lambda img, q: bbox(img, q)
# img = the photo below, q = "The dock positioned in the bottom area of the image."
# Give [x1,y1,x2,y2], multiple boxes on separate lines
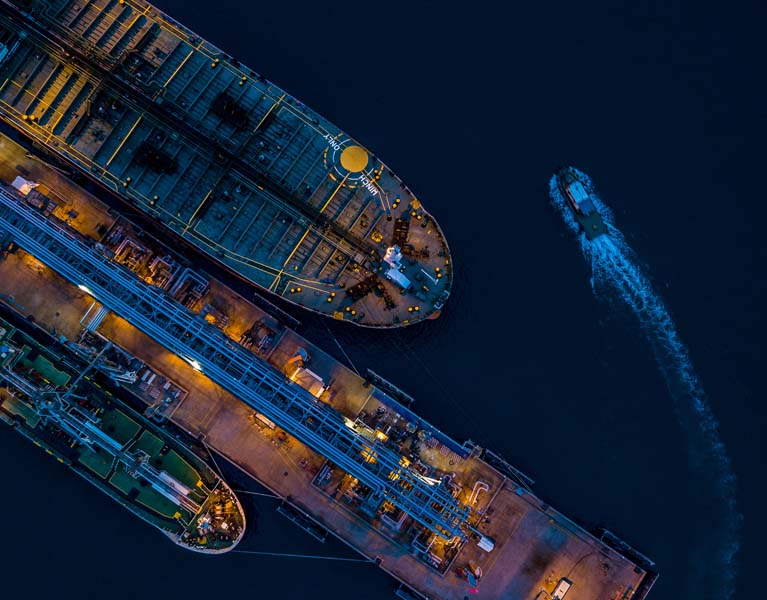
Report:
[0,130,657,600]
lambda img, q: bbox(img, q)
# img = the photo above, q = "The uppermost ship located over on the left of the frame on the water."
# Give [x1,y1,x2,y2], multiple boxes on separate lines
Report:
[0,0,451,333]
